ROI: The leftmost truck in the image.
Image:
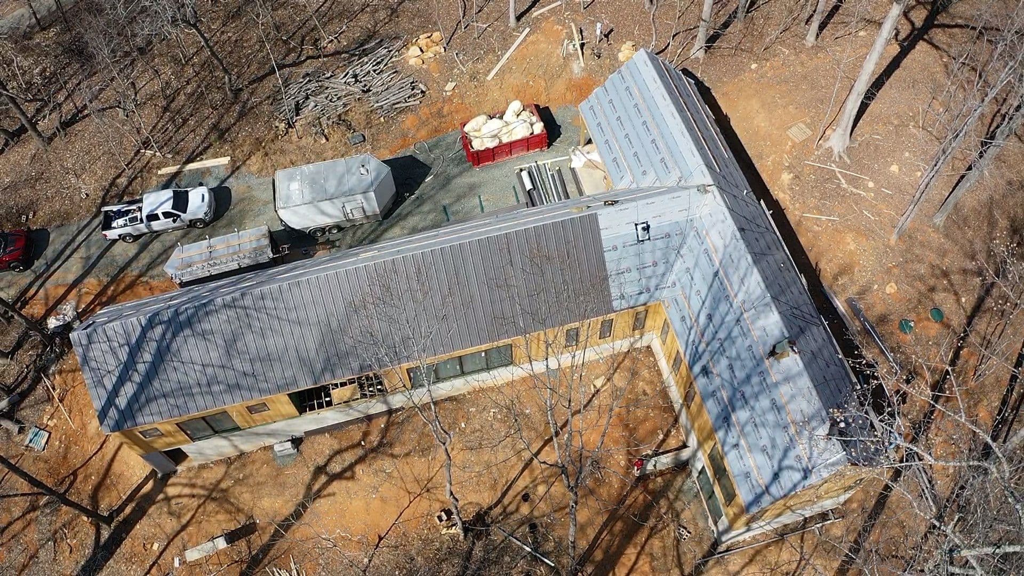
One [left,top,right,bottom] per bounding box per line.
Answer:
[0,235,38,278]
